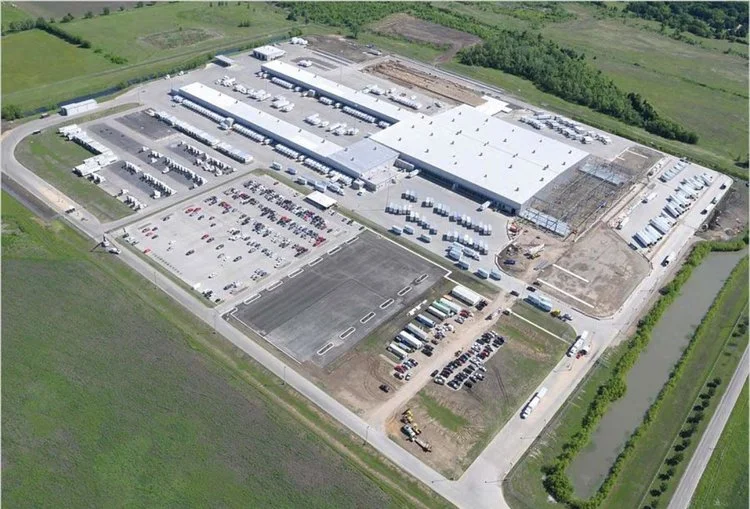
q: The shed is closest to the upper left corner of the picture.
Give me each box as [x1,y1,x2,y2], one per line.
[62,101,100,117]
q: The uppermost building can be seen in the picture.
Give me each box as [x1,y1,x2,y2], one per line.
[253,46,286,62]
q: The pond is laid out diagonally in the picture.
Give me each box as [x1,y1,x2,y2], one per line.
[568,245,750,498]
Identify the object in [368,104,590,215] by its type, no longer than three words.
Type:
building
